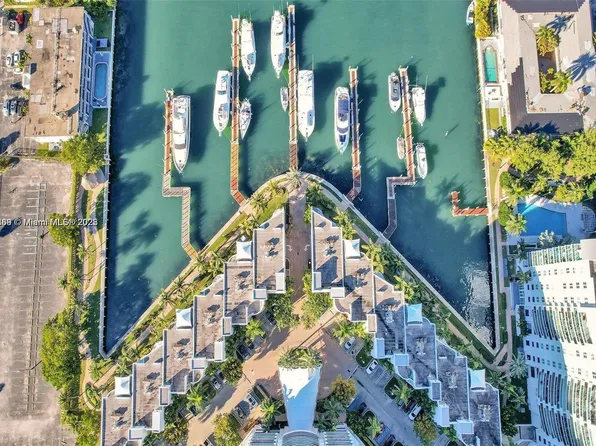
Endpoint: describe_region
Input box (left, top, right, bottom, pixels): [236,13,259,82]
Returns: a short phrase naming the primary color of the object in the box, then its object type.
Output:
white boat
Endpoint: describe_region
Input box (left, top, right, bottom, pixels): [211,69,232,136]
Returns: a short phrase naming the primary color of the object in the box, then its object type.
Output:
white boat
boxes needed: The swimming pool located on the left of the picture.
[94,62,109,101]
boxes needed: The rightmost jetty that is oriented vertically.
[377,63,417,243]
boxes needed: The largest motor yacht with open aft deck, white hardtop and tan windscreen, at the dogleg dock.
[171,94,194,176]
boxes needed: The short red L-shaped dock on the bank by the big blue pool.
[450,191,490,218]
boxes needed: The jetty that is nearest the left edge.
[159,87,199,262]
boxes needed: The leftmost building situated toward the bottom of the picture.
[98,209,286,446]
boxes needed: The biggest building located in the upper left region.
[24,7,97,144]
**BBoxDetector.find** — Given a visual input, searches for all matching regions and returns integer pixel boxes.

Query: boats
[171,94,194,176]
[414,143,430,179]
[237,98,256,139]
[409,79,430,128]
[281,86,288,110]
[384,73,402,113]
[211,69,232,136]
[330,86,351,155]
[236,13,259,82]
[296,61,319,144]
[397,136,405,158]
[268,6,288,79]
